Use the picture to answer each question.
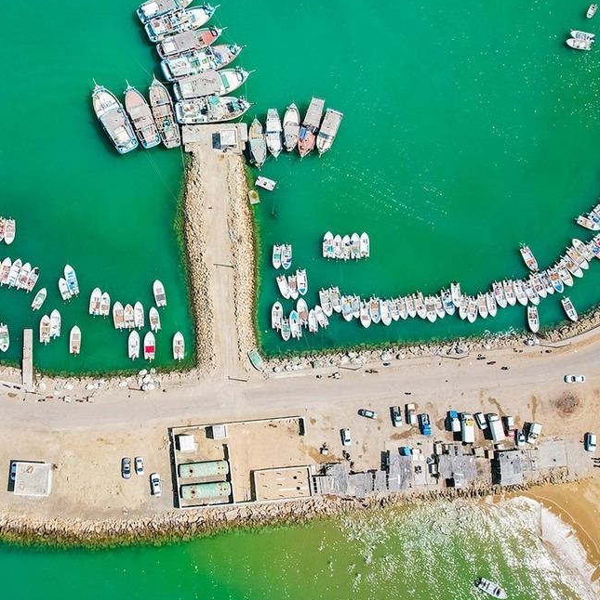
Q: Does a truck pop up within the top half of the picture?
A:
No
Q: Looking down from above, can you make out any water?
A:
Yes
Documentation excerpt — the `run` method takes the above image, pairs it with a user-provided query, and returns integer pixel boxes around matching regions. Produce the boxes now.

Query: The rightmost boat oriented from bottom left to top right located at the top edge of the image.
[587,1,599,19]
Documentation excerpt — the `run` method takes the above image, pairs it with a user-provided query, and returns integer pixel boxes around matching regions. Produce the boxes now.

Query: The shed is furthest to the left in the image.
[14,461,52,496]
